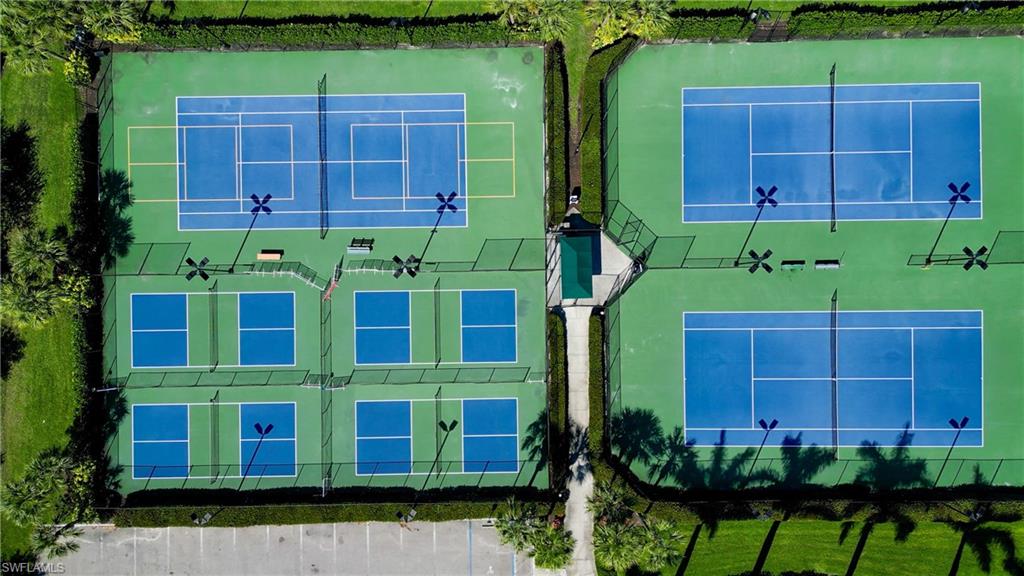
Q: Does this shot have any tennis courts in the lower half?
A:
Yes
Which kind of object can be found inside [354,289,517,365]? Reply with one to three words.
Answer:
sports court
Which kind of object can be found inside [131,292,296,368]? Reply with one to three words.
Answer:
sports court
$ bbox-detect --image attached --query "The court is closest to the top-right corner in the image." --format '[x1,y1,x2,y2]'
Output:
[682,82,982,223]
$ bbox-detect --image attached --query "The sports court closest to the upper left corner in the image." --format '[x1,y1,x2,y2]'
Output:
[128,125,293,202]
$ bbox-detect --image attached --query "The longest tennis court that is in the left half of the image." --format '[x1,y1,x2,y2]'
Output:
[176,93,468,230]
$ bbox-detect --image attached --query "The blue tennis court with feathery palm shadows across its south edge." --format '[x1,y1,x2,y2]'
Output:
[683,310,984,447]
